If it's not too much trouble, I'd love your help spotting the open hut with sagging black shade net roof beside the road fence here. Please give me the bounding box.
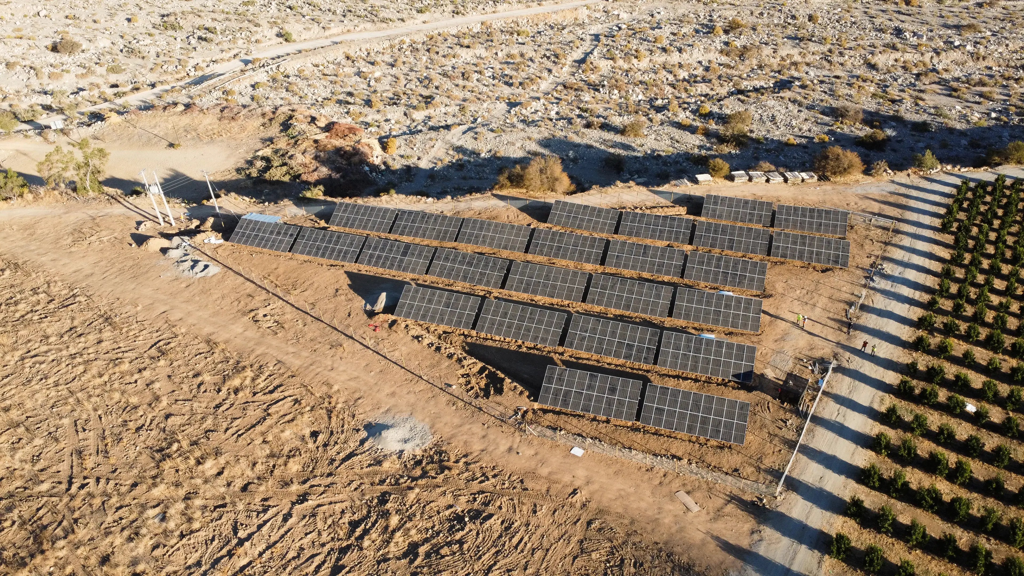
[774,376,812,415]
